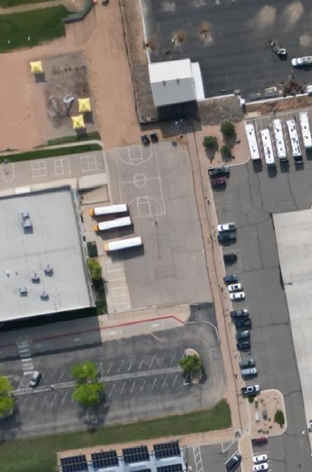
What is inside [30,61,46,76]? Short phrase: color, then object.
yellow umbrella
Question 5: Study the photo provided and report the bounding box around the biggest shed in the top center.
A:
[149,59,207,110]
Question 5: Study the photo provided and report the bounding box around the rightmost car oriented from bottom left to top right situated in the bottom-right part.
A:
[224,452,244,472]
